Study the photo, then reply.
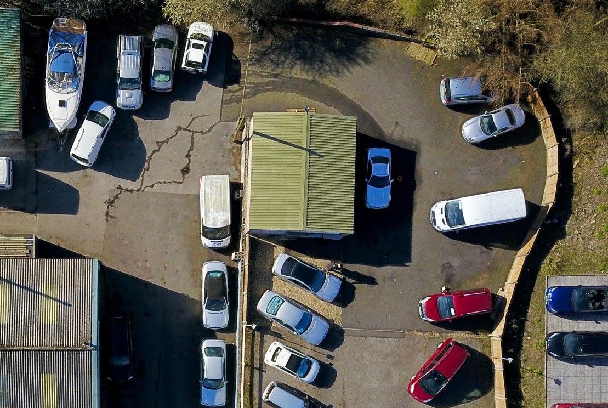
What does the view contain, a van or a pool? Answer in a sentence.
Of the two, only a van appears.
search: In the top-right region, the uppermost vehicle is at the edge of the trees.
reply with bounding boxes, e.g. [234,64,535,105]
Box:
[440,73,495,108]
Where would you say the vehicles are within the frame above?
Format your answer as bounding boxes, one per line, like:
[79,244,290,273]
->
[262,341,321,386]
[416,287,497,326]
[272,250,343,303]
[362,148,396,209]
[197,339,231,406]
[440,73,495,108]
[426,184,534,233]
[256,287,331,348]
[0,157,13,191]
[546,328,608,363]
[148,24,182,93]
[546,282,608,317]
[200,261,234,329]
[260,379,320,408]
[459,103,526,145]
[66,101,117,169]
[181,20,217,77]
[198,173,234,248]
[112,33,148,110]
